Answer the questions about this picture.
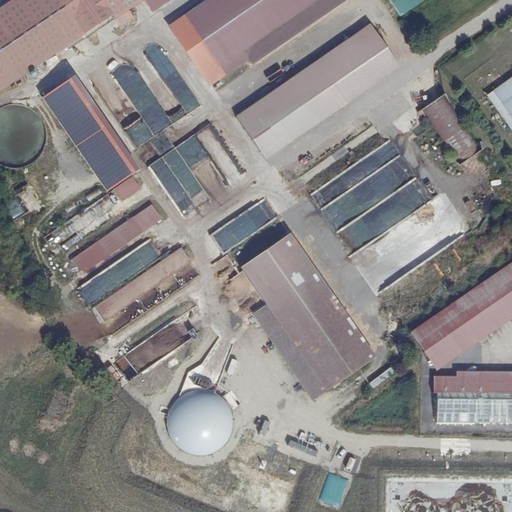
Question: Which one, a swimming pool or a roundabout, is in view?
swimming pool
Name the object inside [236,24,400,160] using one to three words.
barn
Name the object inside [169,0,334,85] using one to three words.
barn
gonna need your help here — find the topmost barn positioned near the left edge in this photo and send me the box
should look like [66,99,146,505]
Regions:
[0,0,140,92]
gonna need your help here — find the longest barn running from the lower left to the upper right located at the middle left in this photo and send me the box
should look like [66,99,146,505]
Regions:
[70,204,162,274]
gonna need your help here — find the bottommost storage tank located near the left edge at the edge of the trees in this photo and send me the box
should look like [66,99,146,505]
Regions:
[0,103,46,168]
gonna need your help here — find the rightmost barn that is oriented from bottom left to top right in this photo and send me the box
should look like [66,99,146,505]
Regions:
[412,263,512,371]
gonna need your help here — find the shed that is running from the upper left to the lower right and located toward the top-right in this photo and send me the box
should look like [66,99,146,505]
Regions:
[422,94,482,163]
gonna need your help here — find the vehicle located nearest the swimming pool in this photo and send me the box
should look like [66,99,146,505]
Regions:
[346,456,358,474]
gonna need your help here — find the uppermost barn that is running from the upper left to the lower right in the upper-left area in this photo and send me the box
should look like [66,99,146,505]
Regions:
[44,74,140,190]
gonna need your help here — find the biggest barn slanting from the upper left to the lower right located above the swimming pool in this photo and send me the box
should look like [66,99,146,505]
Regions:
[240,233,374,391]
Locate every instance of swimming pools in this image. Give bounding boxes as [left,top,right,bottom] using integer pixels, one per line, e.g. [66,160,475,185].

[318,470,352,510]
